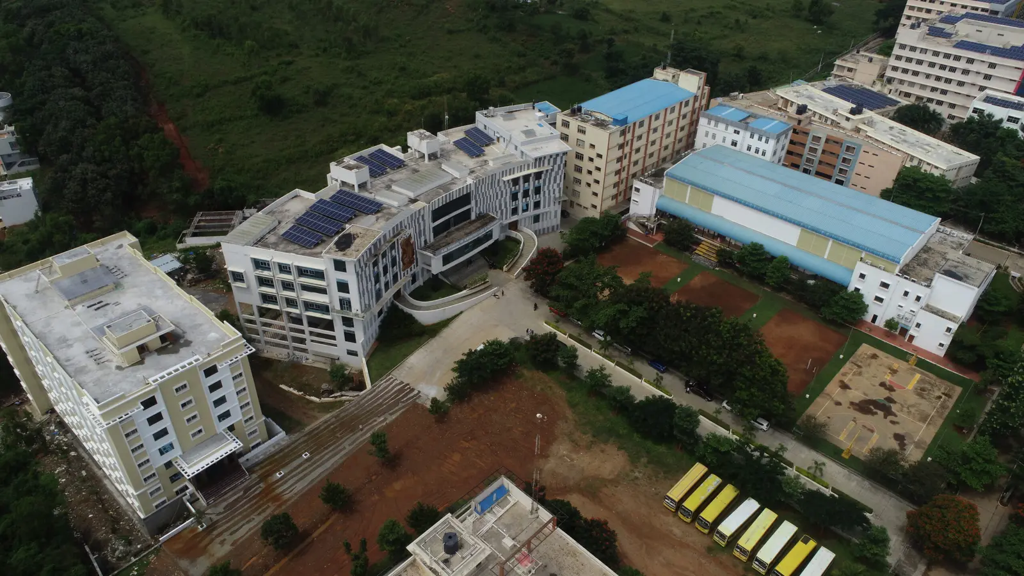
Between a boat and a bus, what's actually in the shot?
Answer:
bus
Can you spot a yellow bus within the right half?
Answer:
Yes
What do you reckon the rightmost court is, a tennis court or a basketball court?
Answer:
basketball court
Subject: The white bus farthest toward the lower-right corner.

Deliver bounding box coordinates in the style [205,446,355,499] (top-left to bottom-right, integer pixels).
[805,548,838,576]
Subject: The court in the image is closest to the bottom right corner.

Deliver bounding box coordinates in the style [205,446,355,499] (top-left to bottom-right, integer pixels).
[796,344,962,481]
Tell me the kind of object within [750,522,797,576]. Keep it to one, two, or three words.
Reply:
bus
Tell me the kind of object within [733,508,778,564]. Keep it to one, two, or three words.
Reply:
bus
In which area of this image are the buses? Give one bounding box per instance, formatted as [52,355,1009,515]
[713,497,758,551]
[774,535,817,576]
[750,522,797,576]
[805,548,838,576]
[664,465,708,515]
[694,485,741,536]
[677,475,722,526]
[733,508,778,564]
